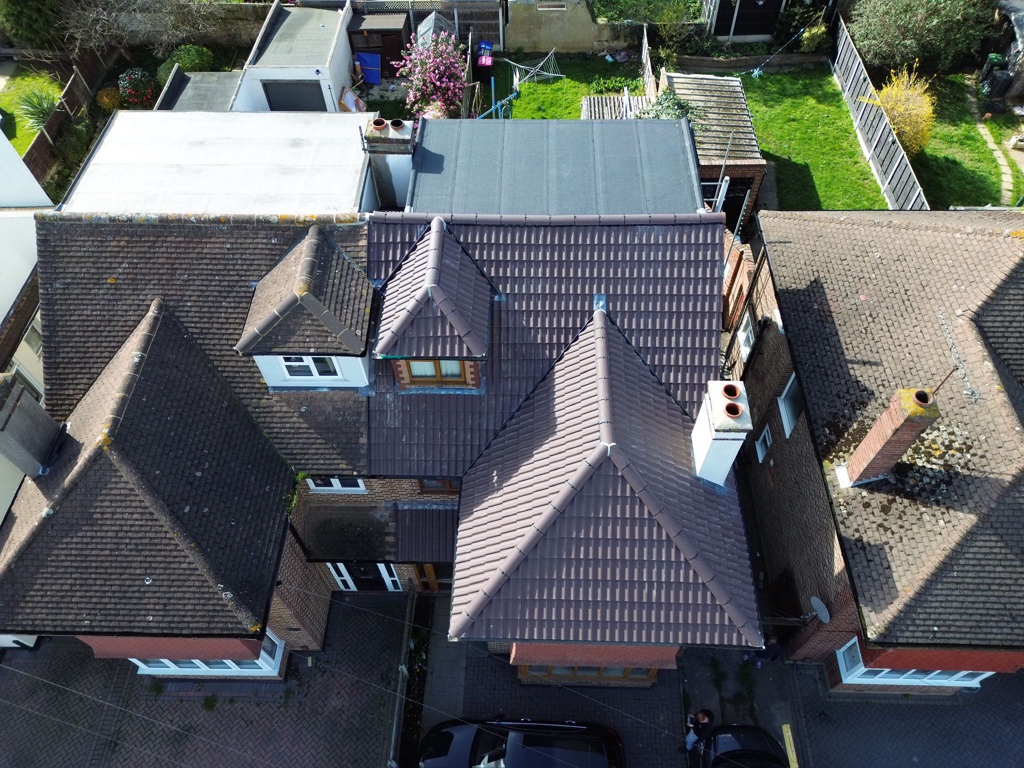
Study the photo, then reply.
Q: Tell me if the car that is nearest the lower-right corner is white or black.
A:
black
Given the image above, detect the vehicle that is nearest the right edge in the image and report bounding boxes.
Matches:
[696,723,787,768]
